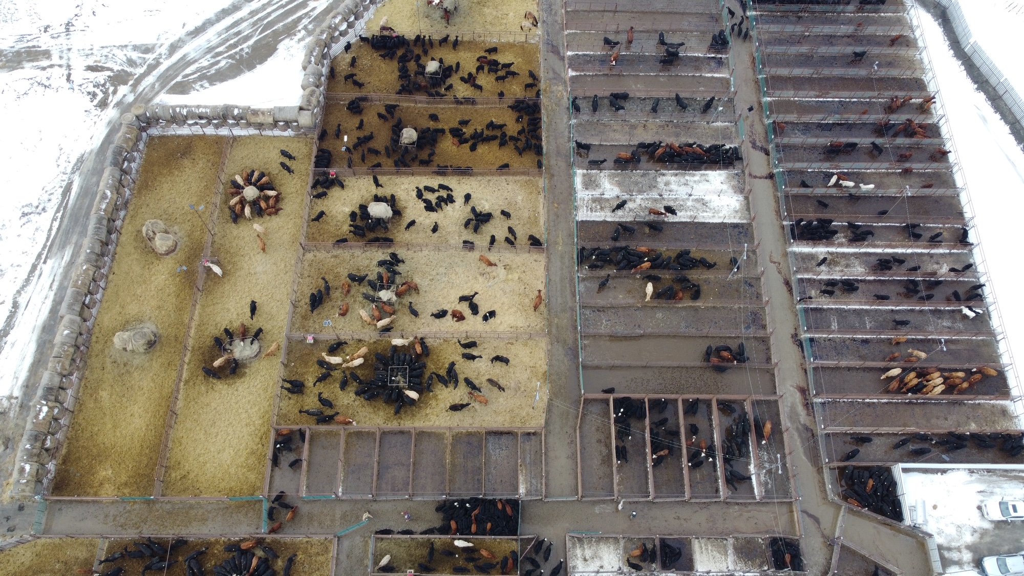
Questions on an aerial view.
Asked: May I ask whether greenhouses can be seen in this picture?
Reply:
No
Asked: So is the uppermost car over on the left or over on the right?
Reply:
right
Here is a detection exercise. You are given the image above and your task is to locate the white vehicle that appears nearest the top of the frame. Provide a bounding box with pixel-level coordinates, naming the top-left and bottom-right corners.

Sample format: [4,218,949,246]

[977,497,1024,522]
